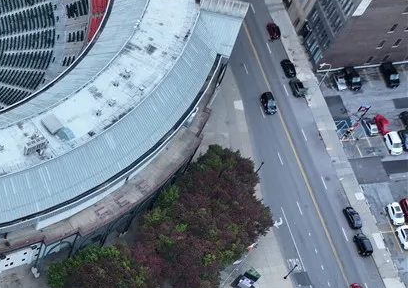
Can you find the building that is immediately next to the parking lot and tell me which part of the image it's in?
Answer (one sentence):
The building that is immediately next to the parking lot appears toward the top right of the photo.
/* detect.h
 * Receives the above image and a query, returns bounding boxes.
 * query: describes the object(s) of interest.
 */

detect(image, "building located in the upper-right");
[282,0,408,74]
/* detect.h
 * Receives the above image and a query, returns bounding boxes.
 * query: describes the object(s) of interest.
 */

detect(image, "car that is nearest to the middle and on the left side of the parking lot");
[260,92,277,112]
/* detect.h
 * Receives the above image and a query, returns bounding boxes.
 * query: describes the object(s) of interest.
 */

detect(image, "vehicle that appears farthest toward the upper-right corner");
[381,65,399,85]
